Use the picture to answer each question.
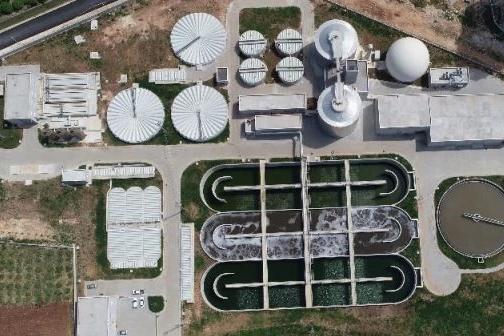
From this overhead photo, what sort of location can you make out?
industrial area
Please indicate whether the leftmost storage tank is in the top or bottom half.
top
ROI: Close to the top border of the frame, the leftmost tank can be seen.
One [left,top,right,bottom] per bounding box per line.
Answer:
[170,14,227,75]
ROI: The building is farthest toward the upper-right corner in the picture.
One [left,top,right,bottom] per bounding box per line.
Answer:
[427,66,469,88]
